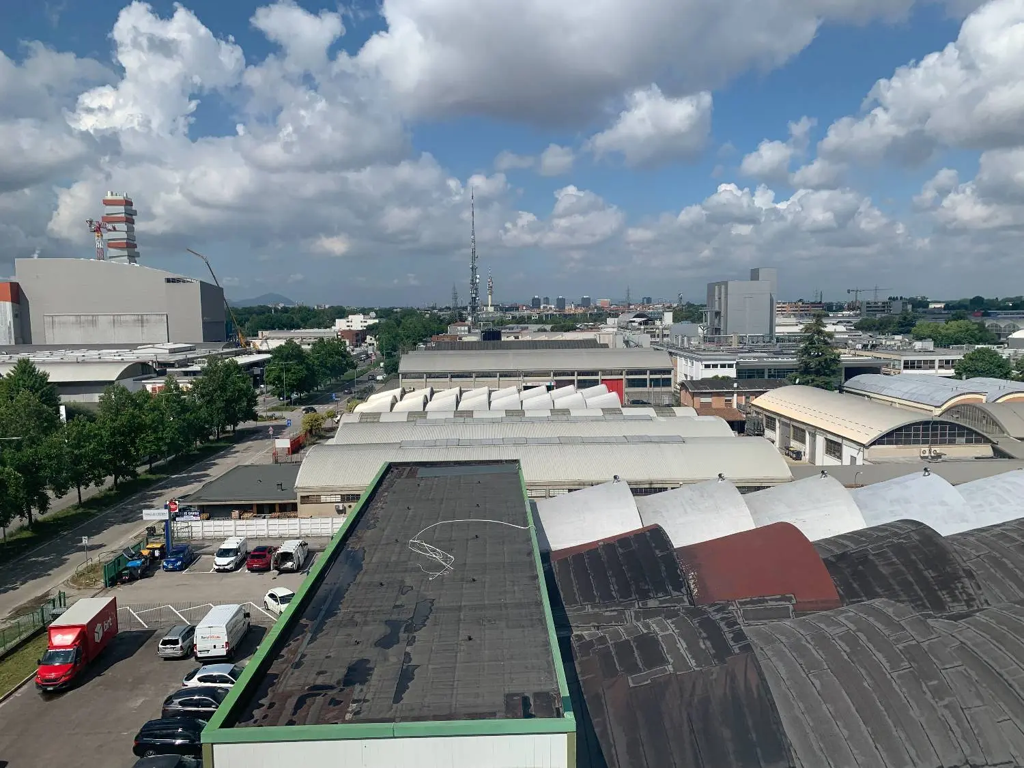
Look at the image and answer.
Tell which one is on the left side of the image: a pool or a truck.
truck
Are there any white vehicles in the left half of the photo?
Yes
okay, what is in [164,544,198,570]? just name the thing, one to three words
car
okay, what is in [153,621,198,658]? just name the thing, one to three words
car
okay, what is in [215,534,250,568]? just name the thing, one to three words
van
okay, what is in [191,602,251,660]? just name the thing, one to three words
van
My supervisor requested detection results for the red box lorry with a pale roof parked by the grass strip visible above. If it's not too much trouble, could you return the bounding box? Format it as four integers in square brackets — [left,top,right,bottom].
[26,596,118,690]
